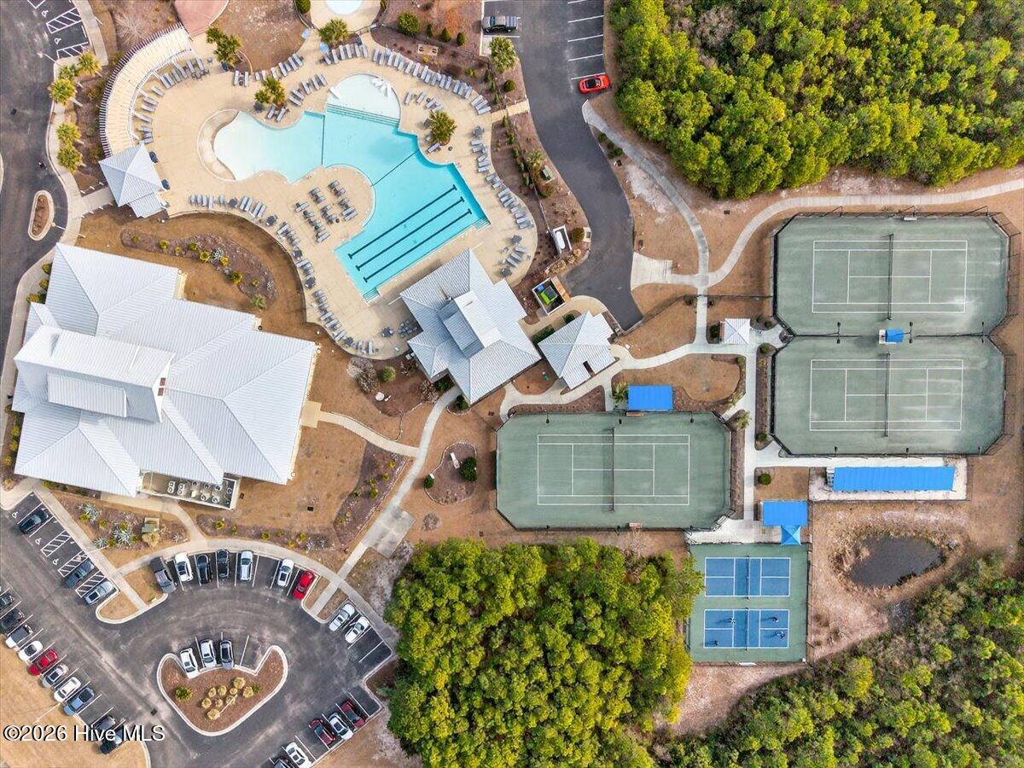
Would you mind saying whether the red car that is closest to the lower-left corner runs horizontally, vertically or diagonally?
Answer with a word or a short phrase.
diagonally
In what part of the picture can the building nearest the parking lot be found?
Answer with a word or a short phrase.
left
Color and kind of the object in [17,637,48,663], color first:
white car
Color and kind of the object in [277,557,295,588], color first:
white car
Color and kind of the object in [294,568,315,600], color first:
red car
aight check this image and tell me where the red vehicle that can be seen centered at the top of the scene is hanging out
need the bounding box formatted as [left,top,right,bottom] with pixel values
[579,74,611,93]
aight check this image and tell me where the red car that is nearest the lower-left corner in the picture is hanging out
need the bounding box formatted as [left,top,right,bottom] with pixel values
[30,648,61,674]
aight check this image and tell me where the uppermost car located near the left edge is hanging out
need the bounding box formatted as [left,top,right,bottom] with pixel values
[19,507,52,534]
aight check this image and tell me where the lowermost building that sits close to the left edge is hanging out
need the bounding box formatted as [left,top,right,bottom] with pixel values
[11,244,317,511]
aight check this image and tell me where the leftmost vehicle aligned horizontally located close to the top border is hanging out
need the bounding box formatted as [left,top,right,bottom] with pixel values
[482,15,519,33]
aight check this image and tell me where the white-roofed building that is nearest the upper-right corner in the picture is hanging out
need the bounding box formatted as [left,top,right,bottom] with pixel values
[719,318,751,344]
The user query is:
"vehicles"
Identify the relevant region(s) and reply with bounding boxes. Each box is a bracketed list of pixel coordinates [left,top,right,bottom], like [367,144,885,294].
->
[343,614,372,643]
[156,556,178,592]
[339,698,366,730]
[309,716,337,748]
[284,739,312,768]
[238,549,255,581]
[66,686,97,713]
[53,674,85,703]
[214,547,231,579]
[86,579,118,605]
[4,621,37,649]
[64,560,95,586]
[17,637,48,663]
[41,661,72,688]
[328,710,355,740]
[482,15,519,33]
[0,605,30,632]
[219,638,235,669]
[194,552,213,584]
[579,74,611,93]
[100,723,132,751]
[173,551,193,583]
[88,711,120,739]
[201,636,218,669]
[277,557,295,588]
[30,648,61,674]
[327,602,357,631]
[294,568,315,600]
[19,507,52,534]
